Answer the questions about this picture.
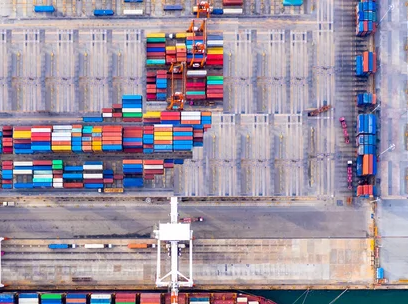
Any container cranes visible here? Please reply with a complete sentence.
Yes, a container crane is visible in the scene.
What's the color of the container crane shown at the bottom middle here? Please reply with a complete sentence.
From above, the container crane shown at the bottom middle appears white.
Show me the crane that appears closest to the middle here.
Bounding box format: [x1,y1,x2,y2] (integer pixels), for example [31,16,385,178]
[164,62,188,107]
